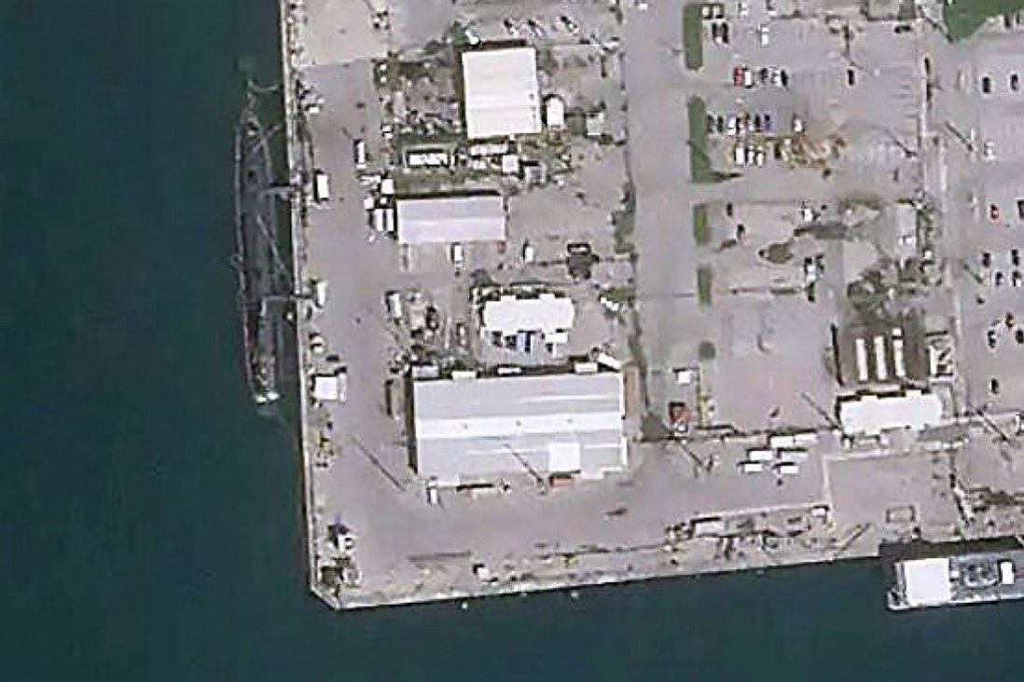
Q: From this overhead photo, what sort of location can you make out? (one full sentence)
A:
The picture captures a port.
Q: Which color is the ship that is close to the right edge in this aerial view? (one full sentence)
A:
In this view, the ship that is close to the right edge is white.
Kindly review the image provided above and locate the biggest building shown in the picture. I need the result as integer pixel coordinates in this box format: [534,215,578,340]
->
[413,372,627,476]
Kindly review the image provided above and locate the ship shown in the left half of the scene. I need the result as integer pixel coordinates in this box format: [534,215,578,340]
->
[237,90,281,403]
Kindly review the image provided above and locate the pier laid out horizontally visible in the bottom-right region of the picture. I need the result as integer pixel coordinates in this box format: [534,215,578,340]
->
[880,535,1024,578]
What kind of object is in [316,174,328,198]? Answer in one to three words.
vehicle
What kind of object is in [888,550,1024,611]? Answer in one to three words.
ship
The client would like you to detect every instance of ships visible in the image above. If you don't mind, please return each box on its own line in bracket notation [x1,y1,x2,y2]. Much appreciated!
[237,90,281,403]
[888,550,1024,611]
